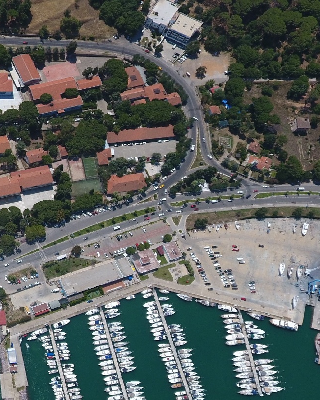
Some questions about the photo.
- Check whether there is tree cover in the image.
Yes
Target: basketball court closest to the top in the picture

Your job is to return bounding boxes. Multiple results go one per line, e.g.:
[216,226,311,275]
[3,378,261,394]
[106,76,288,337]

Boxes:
[43,62,80,80]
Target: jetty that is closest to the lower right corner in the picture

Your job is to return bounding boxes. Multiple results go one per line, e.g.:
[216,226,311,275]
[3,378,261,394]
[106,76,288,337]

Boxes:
[237,310,263,396]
